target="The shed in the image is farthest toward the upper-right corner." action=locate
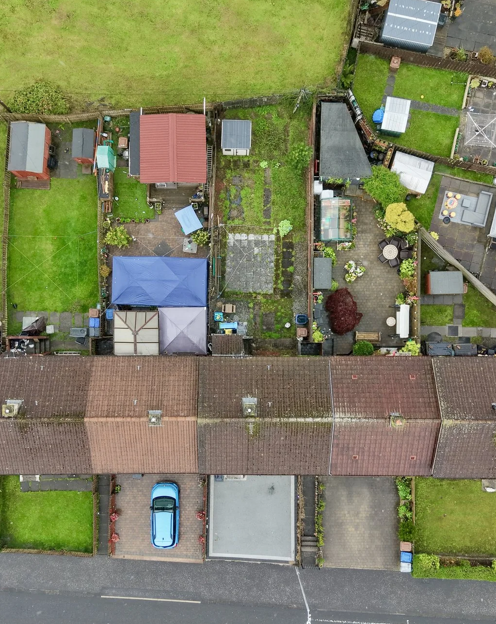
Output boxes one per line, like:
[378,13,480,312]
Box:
[379,0,442,54]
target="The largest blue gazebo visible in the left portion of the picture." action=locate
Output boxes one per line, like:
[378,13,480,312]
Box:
[112,256,208,307]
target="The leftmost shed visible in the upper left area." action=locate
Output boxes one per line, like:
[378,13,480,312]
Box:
[8,120,51,176]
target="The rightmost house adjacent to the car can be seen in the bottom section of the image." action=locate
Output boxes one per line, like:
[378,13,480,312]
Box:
[198,354,336,477]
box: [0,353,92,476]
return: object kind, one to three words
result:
house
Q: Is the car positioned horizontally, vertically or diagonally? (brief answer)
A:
vertically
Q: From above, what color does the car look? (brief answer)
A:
blue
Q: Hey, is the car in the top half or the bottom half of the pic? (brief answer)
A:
bottom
